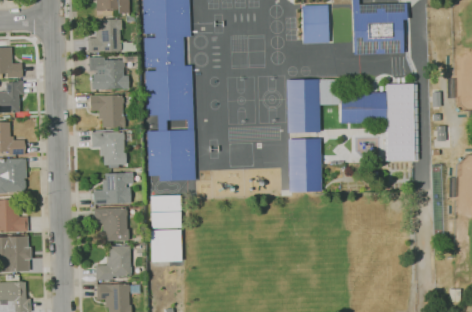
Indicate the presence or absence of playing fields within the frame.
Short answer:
Yes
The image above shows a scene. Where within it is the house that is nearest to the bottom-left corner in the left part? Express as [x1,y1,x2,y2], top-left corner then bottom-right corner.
[0,276,32,312]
